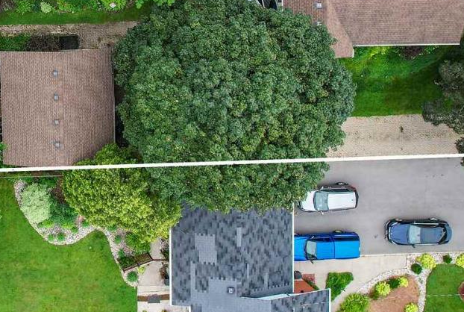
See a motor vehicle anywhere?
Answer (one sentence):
Yes, the image includes a motor vehicle.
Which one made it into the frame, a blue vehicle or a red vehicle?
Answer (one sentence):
There is a blue vehicle in the scene.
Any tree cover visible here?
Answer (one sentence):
Yes, tree cover can be seen from above here.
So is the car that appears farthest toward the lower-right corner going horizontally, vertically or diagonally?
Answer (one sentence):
Seen from above, the car that appears farthest toward the lower-right corner lies horizontally.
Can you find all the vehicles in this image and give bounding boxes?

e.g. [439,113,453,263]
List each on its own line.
[379,215,454,251]
[295,228,361,264]
[291,180,363,215]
